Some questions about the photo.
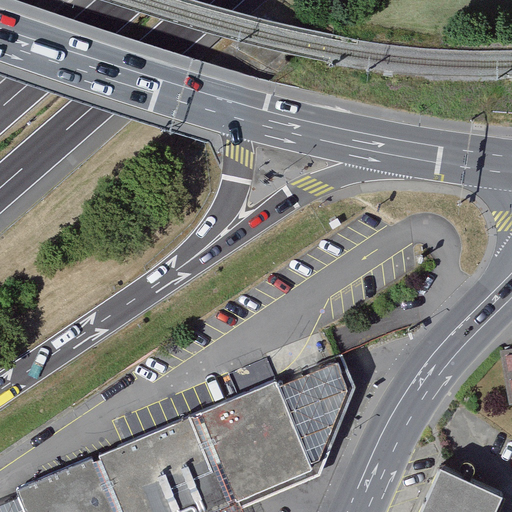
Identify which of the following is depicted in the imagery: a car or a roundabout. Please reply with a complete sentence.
There is a car in the scene.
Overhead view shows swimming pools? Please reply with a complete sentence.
No, there appears to be no swimming pool in this shot.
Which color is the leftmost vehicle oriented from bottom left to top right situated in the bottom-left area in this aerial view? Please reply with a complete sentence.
From above, the leftmost vehicle oriented from bottom left to top right situated in the bottom-left area appears yellow.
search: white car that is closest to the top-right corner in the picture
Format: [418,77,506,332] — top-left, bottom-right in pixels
[276,101,298,114]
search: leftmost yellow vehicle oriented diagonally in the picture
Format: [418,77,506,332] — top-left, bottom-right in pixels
[0,385,22,407]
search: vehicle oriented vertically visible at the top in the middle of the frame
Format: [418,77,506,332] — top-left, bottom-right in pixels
[229,120,242,146]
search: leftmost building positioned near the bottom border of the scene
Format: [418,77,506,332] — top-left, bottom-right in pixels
[0,352,354,512]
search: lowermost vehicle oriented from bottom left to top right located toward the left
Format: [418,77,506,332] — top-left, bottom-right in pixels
[30,427,56,446]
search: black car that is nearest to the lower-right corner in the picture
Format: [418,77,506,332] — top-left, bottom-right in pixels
[492,432,506,454]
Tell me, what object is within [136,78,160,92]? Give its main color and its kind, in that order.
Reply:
white car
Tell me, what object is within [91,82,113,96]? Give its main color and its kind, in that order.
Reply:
white vehicle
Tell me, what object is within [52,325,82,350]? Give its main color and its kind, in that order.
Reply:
white vehicle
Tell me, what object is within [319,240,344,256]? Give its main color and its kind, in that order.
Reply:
white car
